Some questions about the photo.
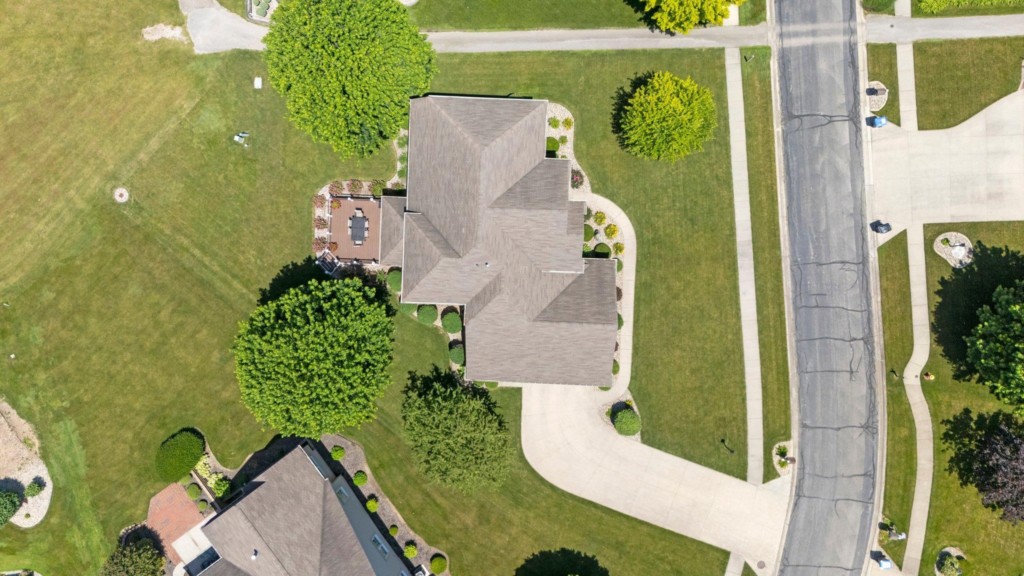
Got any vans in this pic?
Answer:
No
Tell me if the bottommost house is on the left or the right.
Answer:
left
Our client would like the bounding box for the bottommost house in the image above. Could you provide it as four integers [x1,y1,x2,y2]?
[194,438,412,576]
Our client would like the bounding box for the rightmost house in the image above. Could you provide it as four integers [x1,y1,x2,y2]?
[377,94,619,388]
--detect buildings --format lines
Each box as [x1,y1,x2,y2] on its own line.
[377,94,619,388]
[194,438,412,576]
